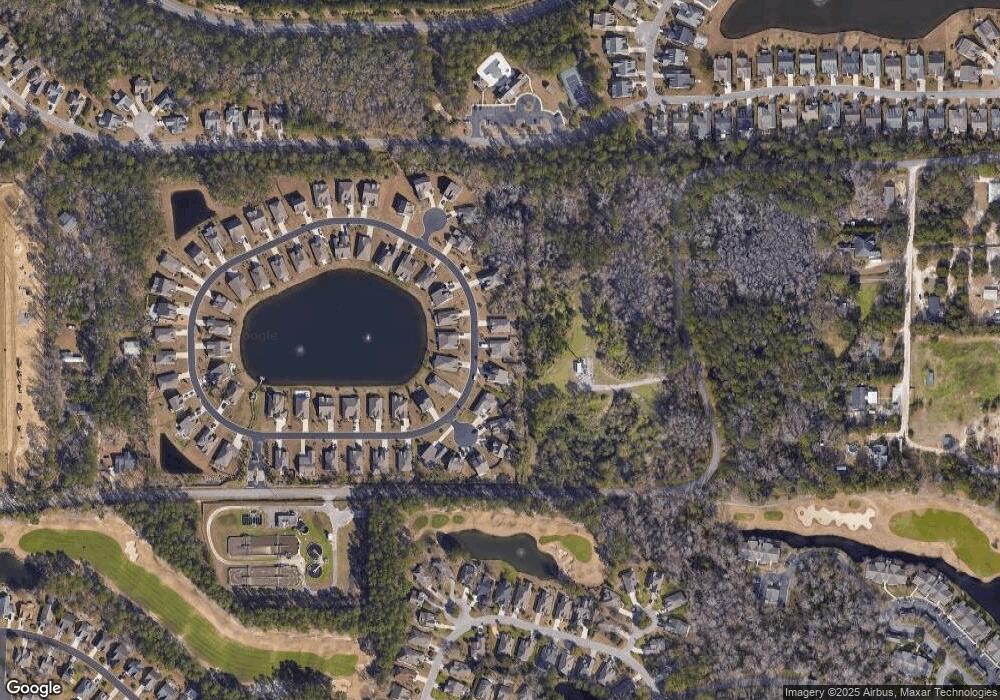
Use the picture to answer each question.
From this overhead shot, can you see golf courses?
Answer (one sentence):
Yes, the photo shows a golf course.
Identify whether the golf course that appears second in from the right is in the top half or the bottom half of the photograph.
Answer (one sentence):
It is in the bottom half that the golf course that appears second in from the right appears.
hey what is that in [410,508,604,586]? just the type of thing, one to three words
golf course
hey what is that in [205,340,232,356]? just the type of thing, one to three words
house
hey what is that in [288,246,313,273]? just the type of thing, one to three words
house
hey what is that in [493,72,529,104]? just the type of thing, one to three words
building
